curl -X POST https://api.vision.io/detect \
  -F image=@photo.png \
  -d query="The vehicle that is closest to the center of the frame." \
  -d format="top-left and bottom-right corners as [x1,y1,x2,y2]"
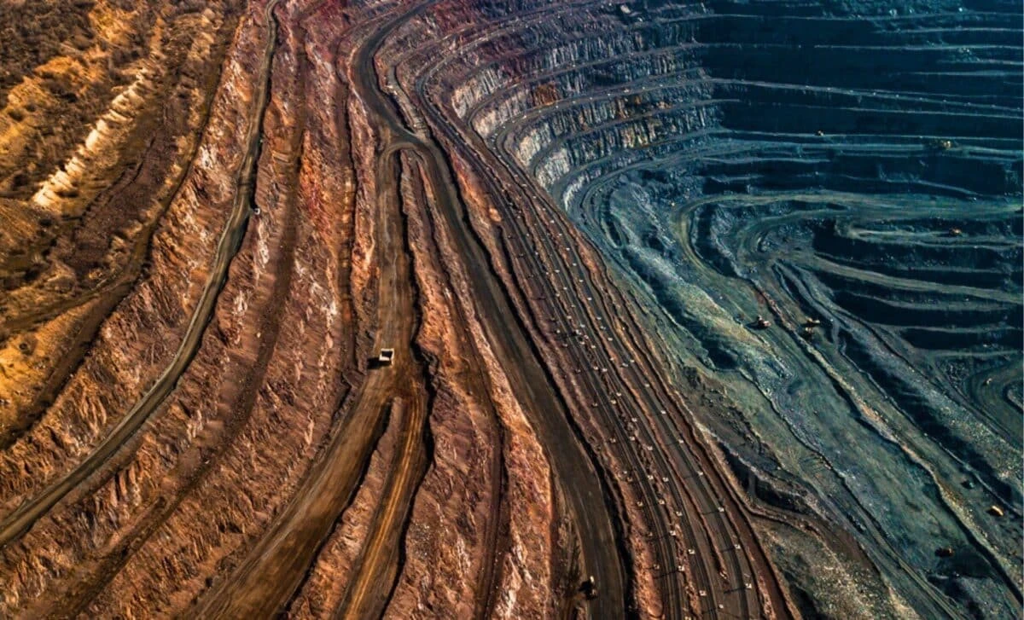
[376,347,393,368]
